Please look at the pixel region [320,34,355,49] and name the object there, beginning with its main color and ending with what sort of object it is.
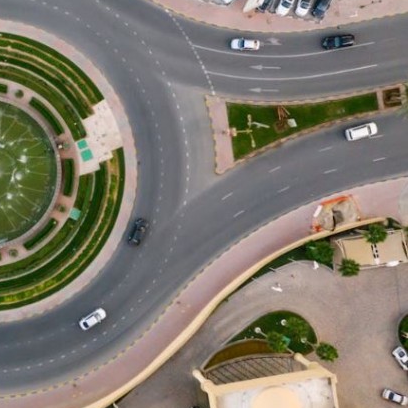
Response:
black car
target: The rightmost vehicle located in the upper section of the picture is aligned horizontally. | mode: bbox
[342,122,377,140]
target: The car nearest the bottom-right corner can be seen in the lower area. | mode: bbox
[377,385,408,407]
